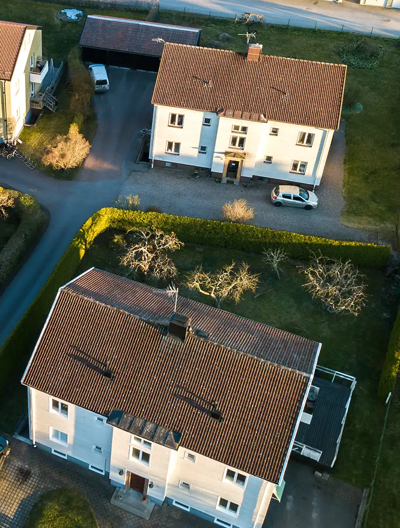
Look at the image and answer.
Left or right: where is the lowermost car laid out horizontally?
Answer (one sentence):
The lowermost car laid out horizontally appears in the right half of the scene.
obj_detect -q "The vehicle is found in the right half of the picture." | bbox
[270,183,320,211]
